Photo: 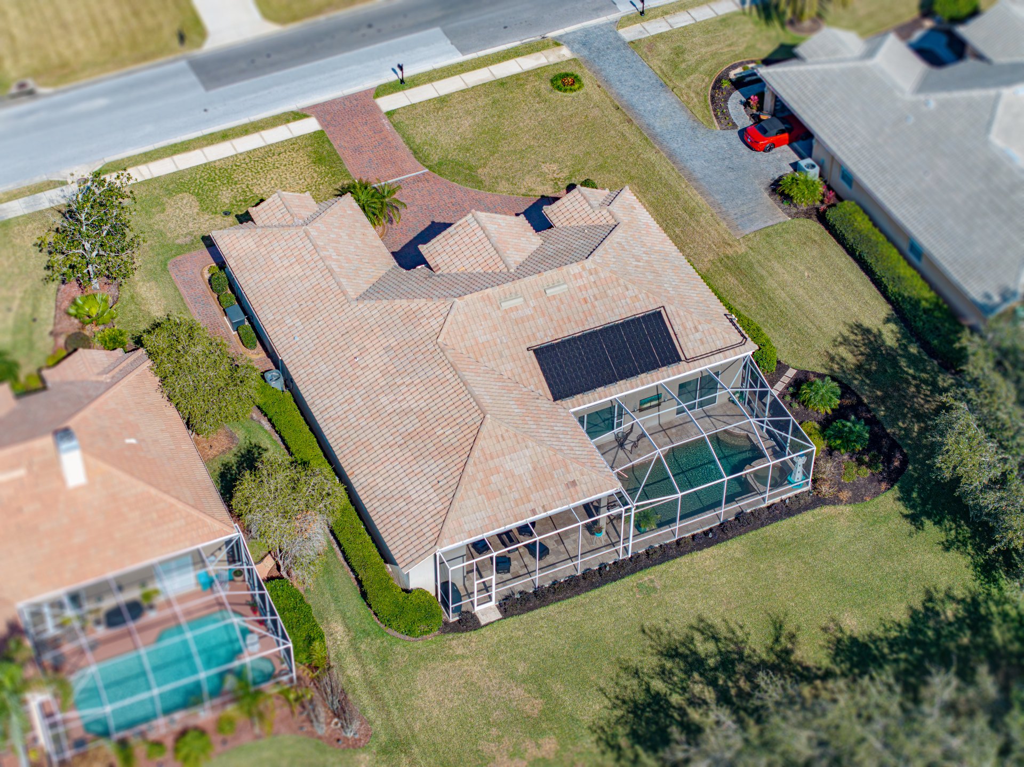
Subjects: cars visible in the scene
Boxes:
[741,110,810,151]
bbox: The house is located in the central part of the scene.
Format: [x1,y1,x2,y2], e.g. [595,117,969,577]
[208,179,758,600]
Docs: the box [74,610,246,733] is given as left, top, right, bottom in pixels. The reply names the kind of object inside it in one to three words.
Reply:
swimming pool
